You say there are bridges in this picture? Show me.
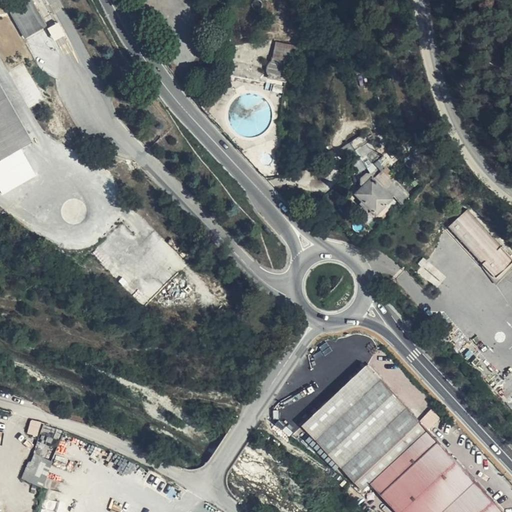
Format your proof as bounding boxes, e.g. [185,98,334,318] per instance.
[180,407,264,504]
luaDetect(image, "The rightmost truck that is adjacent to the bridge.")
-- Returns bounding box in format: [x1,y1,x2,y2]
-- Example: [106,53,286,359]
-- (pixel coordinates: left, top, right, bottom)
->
[273,387,312,410]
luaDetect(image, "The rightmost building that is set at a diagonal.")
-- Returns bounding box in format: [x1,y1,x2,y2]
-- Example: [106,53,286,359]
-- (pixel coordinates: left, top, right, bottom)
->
[449,210,512,277]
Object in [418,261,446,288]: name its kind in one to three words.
building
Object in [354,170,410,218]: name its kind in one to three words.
house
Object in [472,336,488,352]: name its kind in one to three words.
vehicle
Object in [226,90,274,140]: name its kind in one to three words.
swimming pool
